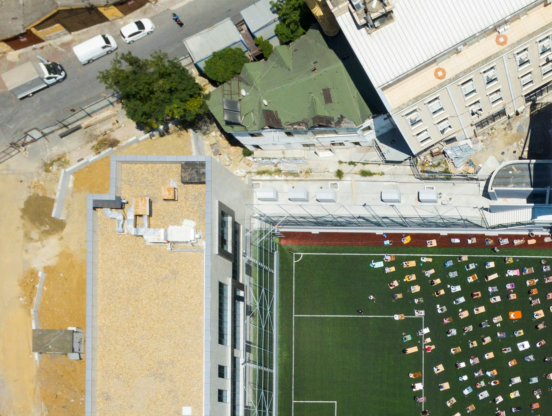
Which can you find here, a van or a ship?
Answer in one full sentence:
This aerial view contains a van.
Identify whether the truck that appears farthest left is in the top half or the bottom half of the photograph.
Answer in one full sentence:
You can find the truck that appears farthest left in the top half.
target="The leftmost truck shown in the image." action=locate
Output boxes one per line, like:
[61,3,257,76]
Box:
[0,56,65,98]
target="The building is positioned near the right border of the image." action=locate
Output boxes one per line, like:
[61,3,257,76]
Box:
[354,0,552,152]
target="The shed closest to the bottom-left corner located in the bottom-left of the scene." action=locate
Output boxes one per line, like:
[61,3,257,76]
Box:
[32,330,86,355]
